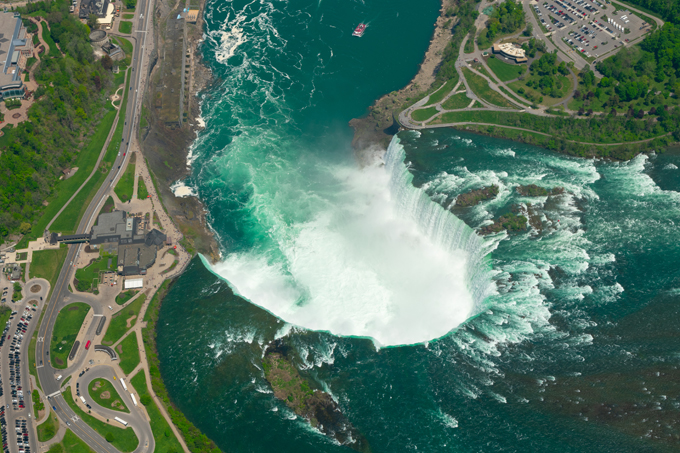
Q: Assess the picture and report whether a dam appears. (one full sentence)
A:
No, this view has no dam in it.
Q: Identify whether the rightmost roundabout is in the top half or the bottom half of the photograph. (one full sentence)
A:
It is in the bottom half that the rightmost roundabout appears.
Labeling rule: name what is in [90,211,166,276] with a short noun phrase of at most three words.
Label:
building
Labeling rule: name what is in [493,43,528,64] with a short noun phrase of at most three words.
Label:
building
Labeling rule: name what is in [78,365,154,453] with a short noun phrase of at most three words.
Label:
roundabout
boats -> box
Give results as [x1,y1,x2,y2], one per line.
[353,21,367,36]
